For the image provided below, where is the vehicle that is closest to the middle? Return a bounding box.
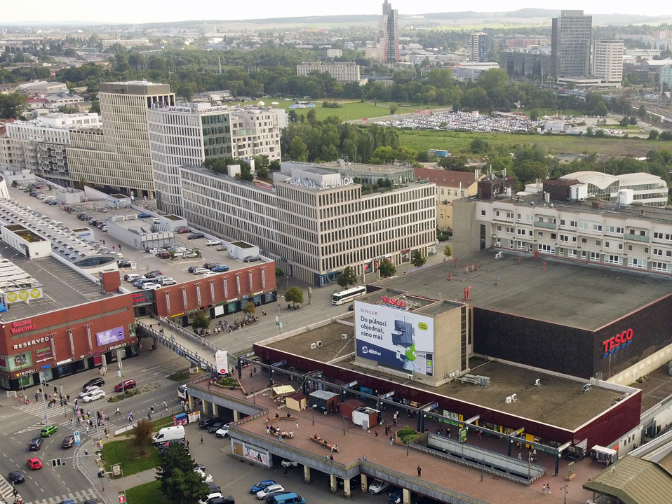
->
[331,286,365,305]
